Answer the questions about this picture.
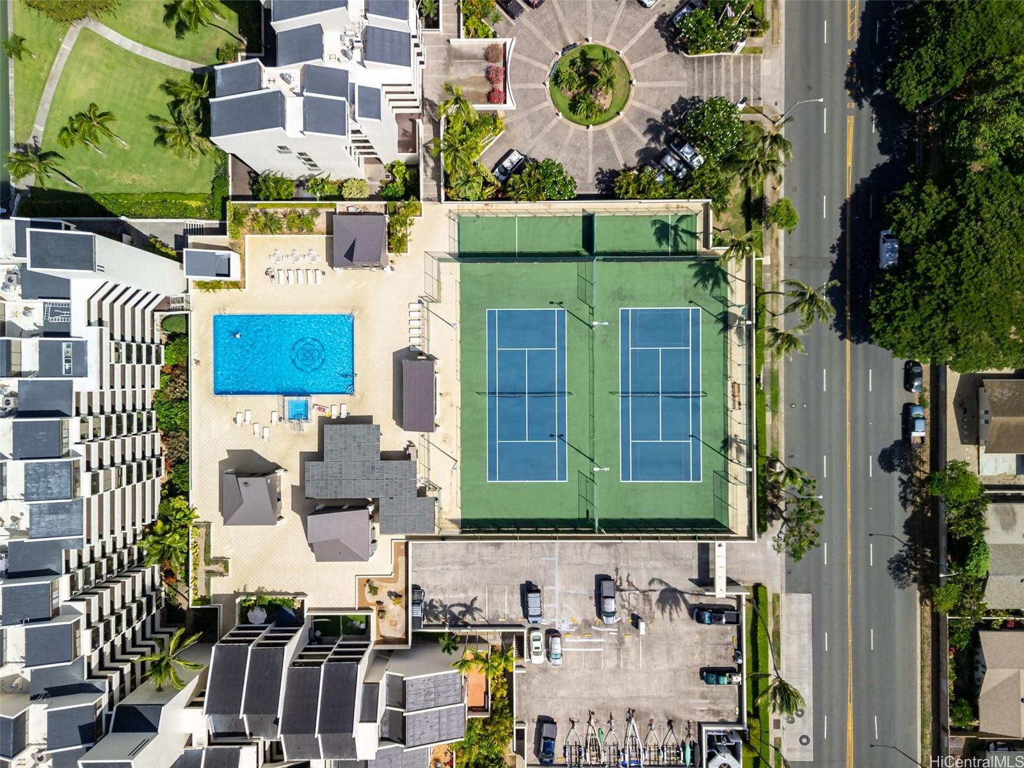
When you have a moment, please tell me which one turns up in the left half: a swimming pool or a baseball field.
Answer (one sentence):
The feature located in the left half is a swimming pool.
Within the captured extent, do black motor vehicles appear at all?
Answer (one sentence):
Yes, there is a black motor vehicle in the image.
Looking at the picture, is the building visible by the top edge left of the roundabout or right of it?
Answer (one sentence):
Looking at the photo, the building visible by the top edge lies to the left of the roundabout.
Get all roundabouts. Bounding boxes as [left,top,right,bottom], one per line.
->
[546,39,636,129]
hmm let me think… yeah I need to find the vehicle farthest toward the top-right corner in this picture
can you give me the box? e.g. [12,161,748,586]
[878,231,899,270]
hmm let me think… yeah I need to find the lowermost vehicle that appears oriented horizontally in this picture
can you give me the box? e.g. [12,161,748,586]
[703,667,742,686]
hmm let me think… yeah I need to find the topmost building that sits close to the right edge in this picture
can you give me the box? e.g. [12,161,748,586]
[970,380,1024,475]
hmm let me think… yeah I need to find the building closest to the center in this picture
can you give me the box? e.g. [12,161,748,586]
[402,360,440,431]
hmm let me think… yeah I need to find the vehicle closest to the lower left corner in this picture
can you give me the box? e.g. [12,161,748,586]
[412,585,427,627]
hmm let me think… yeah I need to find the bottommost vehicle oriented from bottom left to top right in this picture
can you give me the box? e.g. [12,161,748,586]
[494,147,526,182]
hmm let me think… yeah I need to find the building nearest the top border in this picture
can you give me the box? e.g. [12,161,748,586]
[208,0,427,172]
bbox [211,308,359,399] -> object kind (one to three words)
swimming pool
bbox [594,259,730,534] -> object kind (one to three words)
tennis court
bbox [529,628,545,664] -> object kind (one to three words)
car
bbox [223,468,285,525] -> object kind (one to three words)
building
